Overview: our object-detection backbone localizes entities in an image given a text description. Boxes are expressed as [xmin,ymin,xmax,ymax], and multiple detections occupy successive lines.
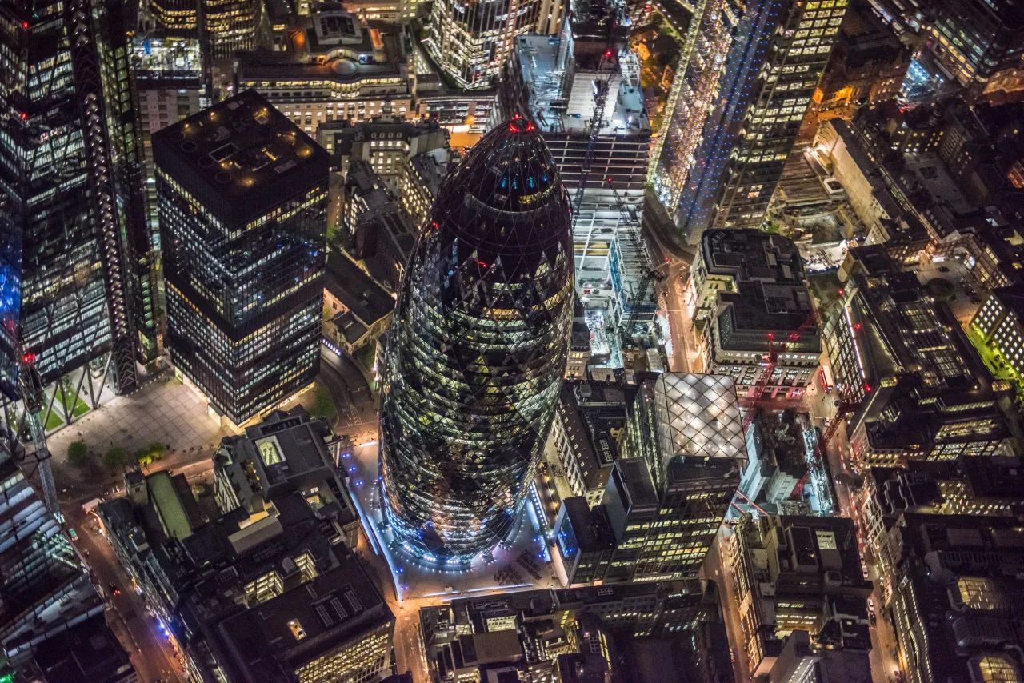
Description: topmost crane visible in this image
[583,13,618,121]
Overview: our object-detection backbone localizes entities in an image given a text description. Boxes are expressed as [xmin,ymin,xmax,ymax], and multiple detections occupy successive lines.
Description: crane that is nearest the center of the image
[605,179,668,333]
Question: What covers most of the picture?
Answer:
buildings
